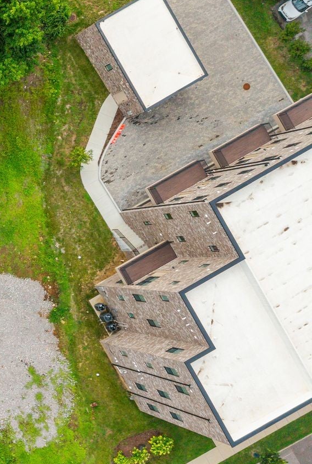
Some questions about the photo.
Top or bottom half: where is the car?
top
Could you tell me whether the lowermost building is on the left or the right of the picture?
right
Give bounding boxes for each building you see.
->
[96,87,312,448]
[76,0,209,118]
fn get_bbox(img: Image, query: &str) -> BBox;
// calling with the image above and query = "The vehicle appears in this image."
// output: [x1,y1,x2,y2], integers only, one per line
[270,0,312,29]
